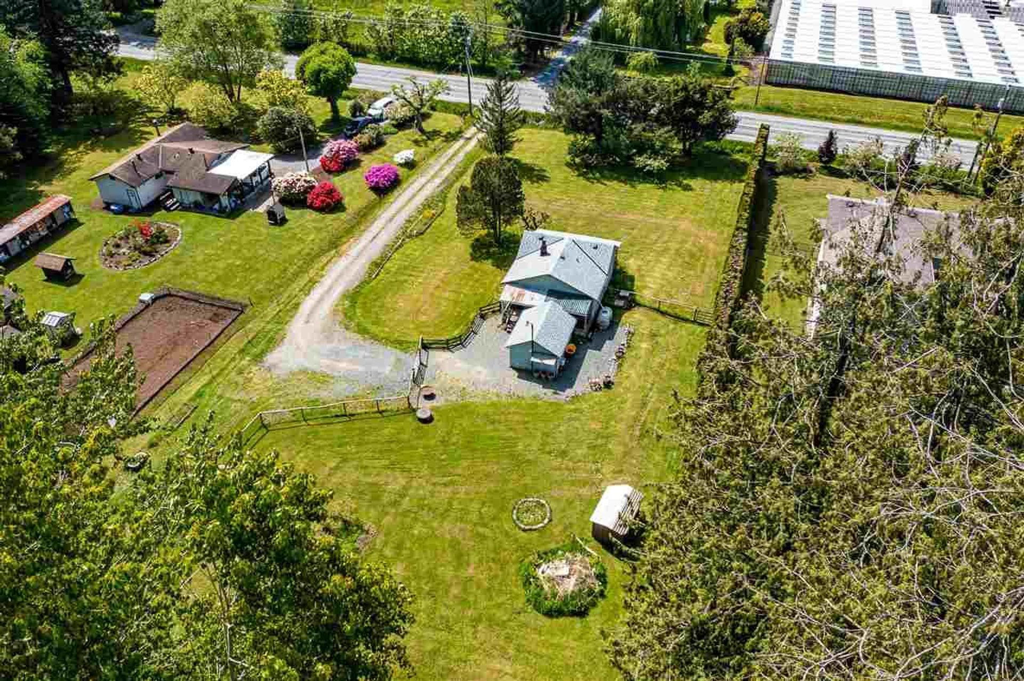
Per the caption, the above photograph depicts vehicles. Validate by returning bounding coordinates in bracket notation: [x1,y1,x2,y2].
[366,90,400,116]
[343,113,378,135]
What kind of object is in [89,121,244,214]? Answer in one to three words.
house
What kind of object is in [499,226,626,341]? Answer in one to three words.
house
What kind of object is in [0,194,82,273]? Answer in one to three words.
shed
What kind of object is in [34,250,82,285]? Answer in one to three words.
shed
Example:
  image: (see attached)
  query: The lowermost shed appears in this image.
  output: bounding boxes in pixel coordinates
[589,485,646,550]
